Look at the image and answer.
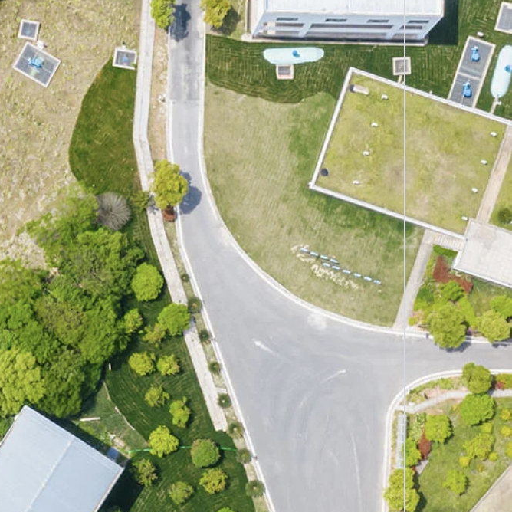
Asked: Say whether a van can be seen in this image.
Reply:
No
